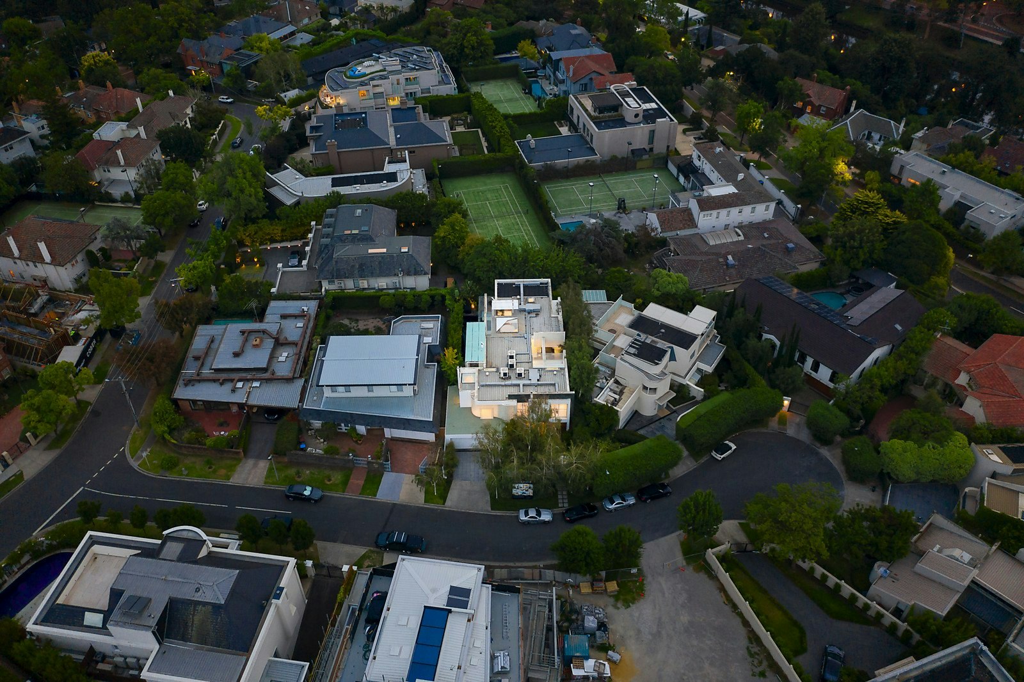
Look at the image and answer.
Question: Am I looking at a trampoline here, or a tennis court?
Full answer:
The image shows a tennis court.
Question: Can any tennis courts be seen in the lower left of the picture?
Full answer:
No, I can find no tennis court in the lower left of the picture.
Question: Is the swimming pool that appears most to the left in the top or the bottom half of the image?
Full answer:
You can find the swimming pool that appears most to the left in the bottom half.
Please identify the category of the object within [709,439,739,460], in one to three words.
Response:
car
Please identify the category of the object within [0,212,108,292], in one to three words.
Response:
house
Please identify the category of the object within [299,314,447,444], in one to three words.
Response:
house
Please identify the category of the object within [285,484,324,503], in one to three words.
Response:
car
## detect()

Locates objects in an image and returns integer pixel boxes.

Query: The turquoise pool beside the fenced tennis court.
[569,218,589,237]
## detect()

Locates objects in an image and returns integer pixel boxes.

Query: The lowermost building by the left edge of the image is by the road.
[26,525,308,682]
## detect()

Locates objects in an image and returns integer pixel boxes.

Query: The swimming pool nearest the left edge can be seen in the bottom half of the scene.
[0,547,76,623]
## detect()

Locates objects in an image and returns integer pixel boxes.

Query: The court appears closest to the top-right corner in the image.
[548,165,688,218]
